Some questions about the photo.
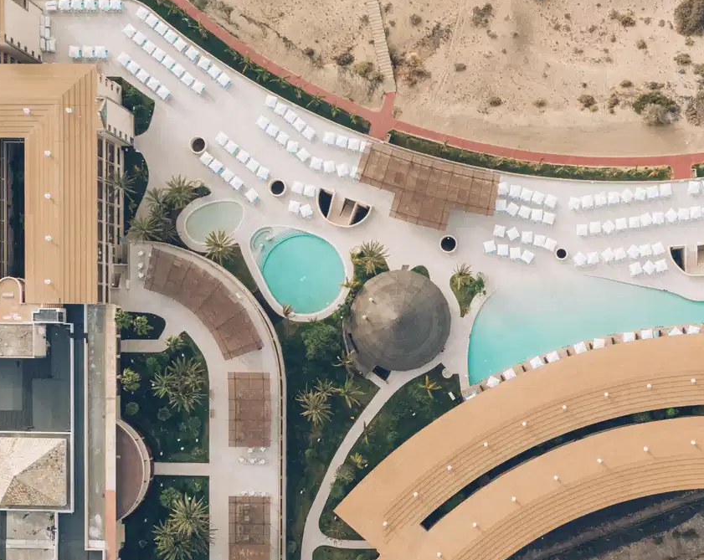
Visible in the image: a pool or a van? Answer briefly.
pool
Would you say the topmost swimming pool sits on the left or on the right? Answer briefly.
left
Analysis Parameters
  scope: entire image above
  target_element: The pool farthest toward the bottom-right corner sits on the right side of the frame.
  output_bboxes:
[469,272,704,387]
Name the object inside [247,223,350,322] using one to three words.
swimming pool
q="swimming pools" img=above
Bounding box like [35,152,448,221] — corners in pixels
[247,223,350,322]
[182,198,246,246]
[469,272,704,387]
